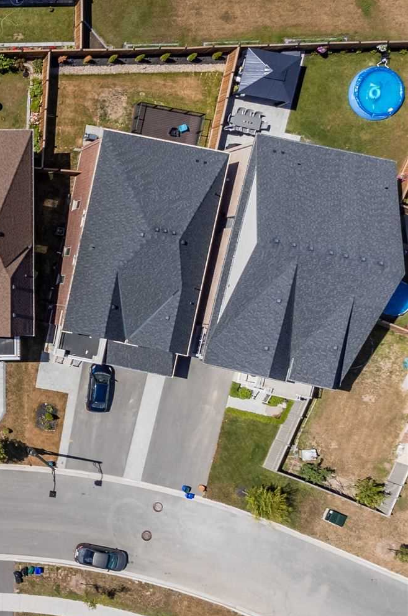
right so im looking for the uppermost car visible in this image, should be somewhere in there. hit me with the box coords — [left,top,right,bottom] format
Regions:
[86,362,114,413]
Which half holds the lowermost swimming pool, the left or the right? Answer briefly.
right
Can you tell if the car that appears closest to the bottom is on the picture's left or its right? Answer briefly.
left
